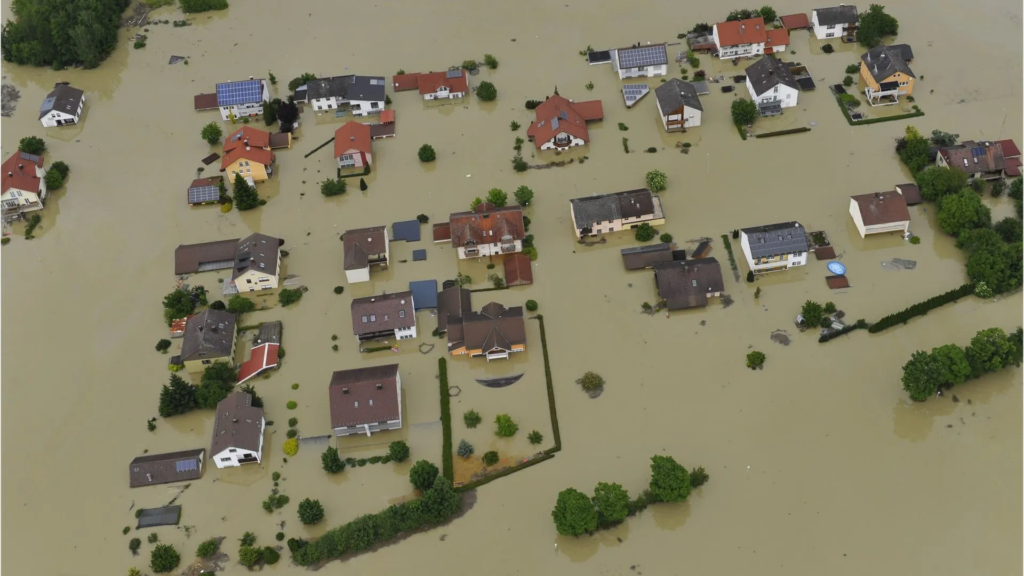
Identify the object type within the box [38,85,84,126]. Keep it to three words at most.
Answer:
house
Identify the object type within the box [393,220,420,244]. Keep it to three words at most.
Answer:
building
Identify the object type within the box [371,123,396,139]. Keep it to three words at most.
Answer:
building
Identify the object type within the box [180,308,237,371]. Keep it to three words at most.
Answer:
house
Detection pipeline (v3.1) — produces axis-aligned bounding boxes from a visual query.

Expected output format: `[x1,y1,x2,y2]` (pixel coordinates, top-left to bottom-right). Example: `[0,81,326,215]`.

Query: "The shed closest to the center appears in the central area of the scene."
[503,255,534,286]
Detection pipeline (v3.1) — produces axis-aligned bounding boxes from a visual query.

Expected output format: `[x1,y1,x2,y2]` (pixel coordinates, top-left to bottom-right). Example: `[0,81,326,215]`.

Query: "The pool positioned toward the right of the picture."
[827,260,846,274]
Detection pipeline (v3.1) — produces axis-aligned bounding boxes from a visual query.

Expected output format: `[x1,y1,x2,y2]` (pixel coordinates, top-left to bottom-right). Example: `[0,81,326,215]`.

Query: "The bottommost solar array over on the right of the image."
[749,229,809,258]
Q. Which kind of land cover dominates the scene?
water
